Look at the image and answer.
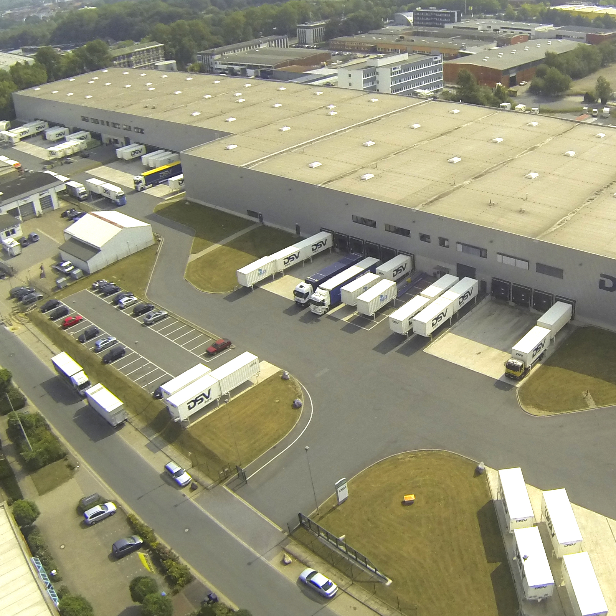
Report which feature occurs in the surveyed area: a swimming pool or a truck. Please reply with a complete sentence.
I can see a truck in this picture.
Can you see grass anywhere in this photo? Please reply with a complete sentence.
Yes, some grass is visible.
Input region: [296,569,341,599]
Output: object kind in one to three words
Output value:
car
